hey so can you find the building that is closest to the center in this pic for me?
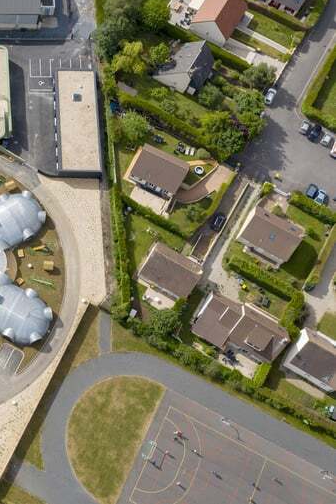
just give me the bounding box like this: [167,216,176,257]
[136,241,204,300]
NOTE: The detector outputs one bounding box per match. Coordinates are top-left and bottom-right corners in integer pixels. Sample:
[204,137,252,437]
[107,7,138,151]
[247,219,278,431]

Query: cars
[264,89,277,104]
[211,212,227,232]
[318,133,333,148]
[308,125,322,141]
[314,189,329,206]
[327,143,336,158]
[298,120,312,135]
[304,183,318,199]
